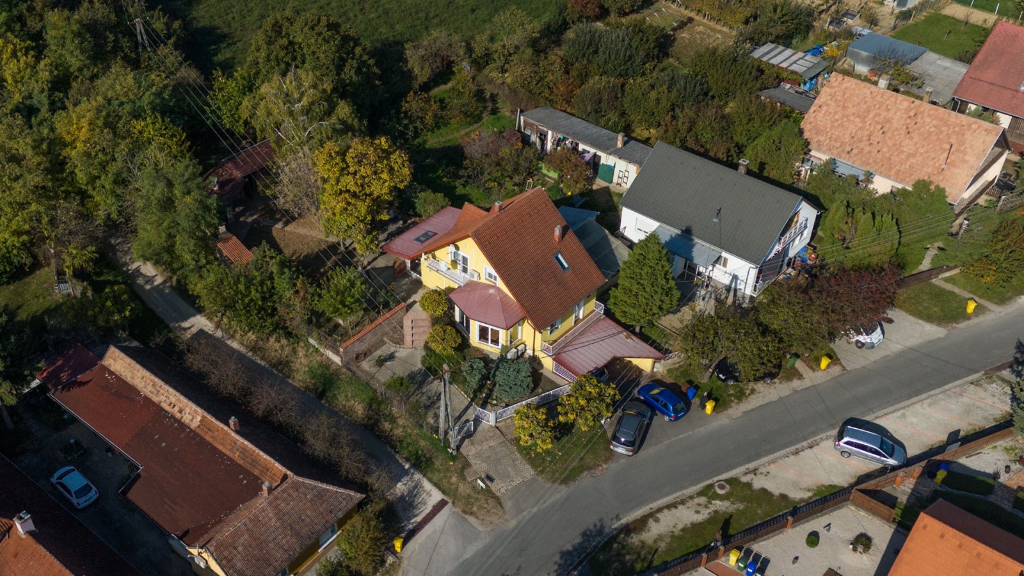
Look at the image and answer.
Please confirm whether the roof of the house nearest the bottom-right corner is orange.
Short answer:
Yes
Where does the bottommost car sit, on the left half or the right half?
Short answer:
left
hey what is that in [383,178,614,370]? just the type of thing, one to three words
house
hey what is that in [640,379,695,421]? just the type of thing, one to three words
car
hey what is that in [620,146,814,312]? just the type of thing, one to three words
house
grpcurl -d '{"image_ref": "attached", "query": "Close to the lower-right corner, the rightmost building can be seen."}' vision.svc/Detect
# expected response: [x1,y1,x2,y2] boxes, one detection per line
[888,490,1024,576]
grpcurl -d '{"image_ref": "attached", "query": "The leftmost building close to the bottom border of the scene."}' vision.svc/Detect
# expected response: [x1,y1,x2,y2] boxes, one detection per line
[0,451,149,576]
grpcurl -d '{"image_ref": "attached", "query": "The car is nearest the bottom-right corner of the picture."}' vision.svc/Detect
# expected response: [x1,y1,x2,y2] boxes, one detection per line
[836,420,911,469]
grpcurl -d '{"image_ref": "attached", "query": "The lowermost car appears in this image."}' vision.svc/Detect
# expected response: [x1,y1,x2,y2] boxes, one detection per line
[45,464,99,508]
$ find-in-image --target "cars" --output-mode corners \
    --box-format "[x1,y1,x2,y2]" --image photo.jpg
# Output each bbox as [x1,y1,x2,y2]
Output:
[836,420,911,469]
[848,323,887,345]
[606,402,651,458]
[45,464,99,508]
[640,379,695,421]
[590,363,626,390]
